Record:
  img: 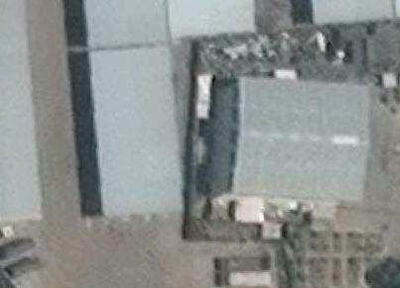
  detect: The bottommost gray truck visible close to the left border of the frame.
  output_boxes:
[6,257,43,279]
